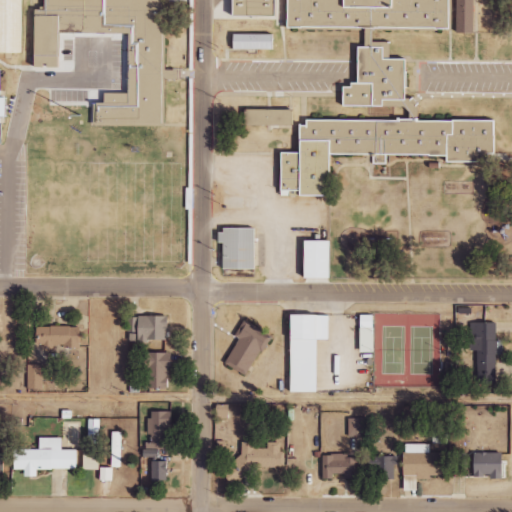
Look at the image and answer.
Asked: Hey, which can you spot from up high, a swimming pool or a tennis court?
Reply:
tennis court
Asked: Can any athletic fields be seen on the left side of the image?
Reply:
Yes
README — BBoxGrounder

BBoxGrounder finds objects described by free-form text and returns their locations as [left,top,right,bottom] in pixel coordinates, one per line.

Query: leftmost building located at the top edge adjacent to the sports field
[34,0,164,124]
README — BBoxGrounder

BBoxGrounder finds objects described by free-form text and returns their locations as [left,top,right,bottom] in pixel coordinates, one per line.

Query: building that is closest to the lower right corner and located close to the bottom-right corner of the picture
[474,452,508,478]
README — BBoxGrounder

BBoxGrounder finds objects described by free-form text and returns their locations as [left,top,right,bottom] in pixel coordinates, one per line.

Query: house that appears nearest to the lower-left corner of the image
[14,437,78,477]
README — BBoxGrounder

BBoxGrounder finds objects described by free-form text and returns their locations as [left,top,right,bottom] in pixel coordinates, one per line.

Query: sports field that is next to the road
[56,161,184,264]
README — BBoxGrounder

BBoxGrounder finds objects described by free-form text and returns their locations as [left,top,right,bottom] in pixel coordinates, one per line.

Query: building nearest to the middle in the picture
[218,228,258,276]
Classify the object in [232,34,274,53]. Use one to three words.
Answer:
building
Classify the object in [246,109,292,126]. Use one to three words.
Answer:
shed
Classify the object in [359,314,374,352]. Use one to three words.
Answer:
building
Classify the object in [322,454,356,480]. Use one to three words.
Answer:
house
